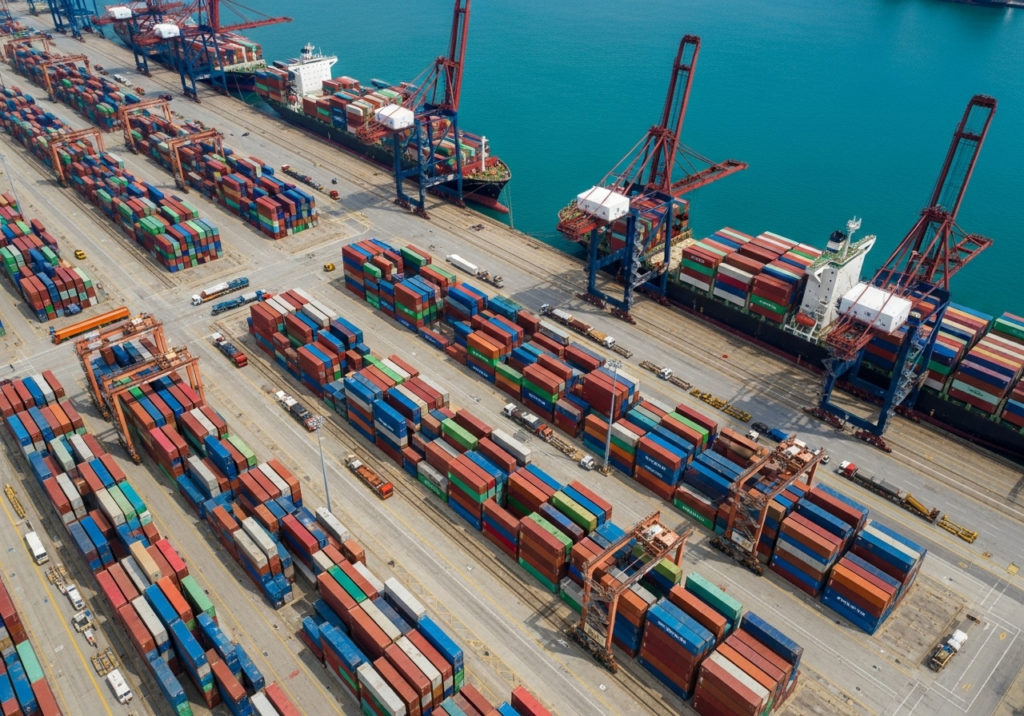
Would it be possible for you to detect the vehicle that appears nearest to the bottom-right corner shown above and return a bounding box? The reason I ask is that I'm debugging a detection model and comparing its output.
[932,623,978,665]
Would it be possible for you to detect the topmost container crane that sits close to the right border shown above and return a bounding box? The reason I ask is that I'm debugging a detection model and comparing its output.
[795,82,1010,452]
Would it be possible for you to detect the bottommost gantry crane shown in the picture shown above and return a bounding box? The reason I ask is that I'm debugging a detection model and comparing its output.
[559,503,700,670]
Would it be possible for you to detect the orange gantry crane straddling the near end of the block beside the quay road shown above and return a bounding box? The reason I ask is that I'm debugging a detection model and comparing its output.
[705,431,833,573]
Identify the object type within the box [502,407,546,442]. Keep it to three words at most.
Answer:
truck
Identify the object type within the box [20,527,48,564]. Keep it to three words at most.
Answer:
bus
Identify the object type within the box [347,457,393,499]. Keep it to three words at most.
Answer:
truck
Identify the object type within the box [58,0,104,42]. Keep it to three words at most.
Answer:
container crane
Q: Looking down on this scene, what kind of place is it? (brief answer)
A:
port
